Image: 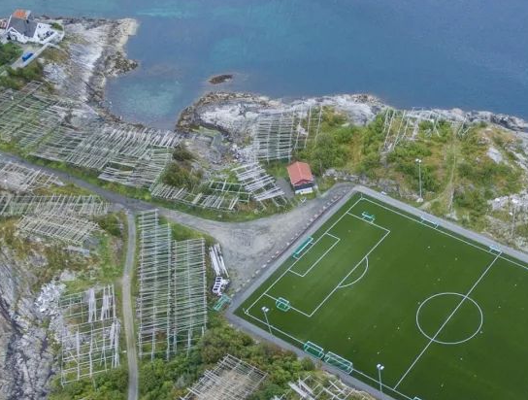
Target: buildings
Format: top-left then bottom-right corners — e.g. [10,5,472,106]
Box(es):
[2,1,51,50]
[288,160,314,192]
